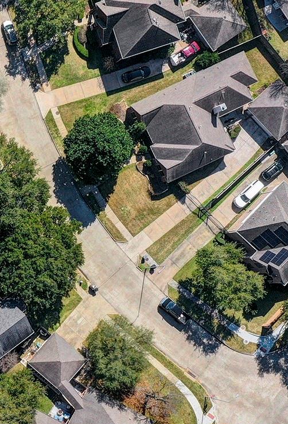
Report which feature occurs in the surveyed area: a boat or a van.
van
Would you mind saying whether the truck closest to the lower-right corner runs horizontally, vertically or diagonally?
diagonally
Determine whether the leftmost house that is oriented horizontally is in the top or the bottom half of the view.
top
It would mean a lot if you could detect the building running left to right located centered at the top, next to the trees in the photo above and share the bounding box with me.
[86,0,247,71]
